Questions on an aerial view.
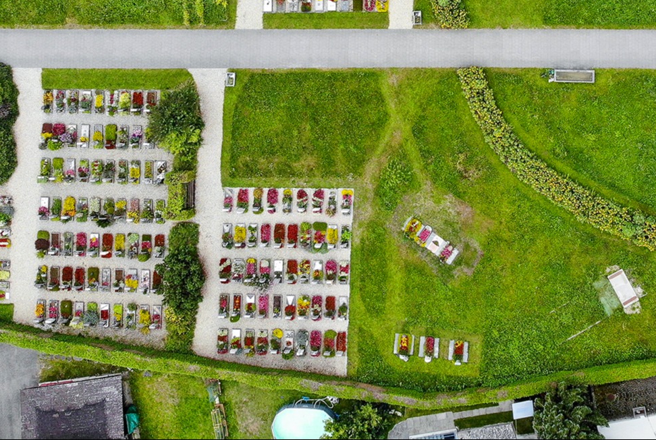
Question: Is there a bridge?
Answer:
No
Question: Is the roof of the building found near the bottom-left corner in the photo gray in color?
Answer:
Yes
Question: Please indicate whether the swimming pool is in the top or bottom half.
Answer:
bottom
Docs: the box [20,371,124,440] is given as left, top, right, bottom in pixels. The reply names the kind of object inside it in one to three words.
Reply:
building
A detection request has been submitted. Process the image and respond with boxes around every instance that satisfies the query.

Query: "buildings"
[596,403,656,440]
[20,371,124,440]
[409,421,517,440]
